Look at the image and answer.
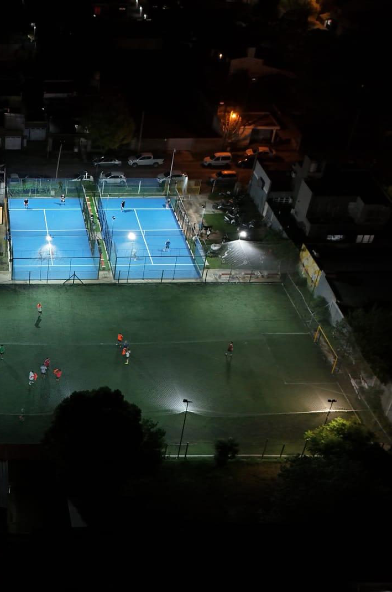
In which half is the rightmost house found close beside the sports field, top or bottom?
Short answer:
top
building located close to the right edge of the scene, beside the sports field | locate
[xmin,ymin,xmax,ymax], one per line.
[274,145,387,239]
